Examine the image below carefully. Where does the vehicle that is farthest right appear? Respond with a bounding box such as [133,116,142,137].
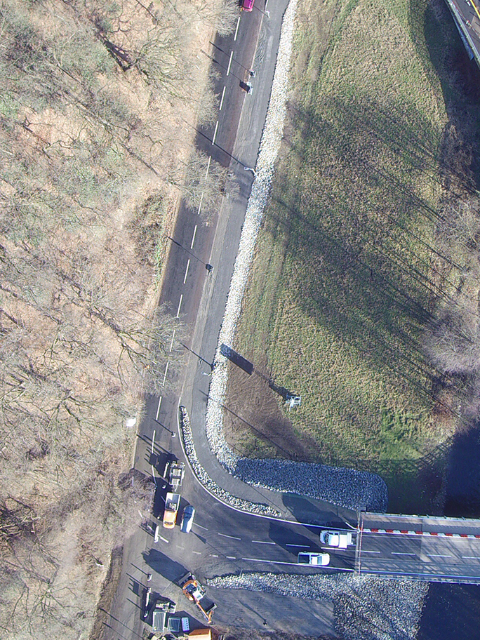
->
[319,530,355,548]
